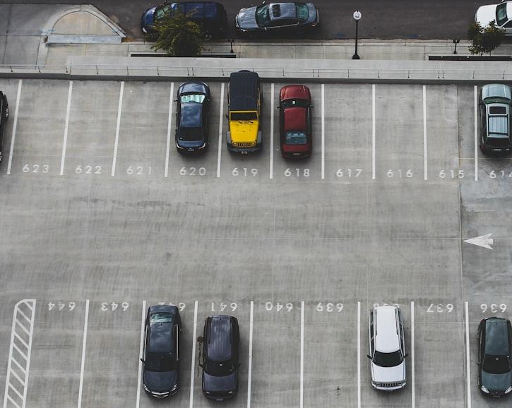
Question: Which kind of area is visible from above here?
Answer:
parking lot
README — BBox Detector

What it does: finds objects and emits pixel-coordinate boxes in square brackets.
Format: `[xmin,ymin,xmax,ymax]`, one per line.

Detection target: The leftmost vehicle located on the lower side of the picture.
[139,305,182,399]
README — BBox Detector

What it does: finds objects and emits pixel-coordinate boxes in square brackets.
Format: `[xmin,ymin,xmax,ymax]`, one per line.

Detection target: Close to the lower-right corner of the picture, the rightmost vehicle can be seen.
[476,314,512,399]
